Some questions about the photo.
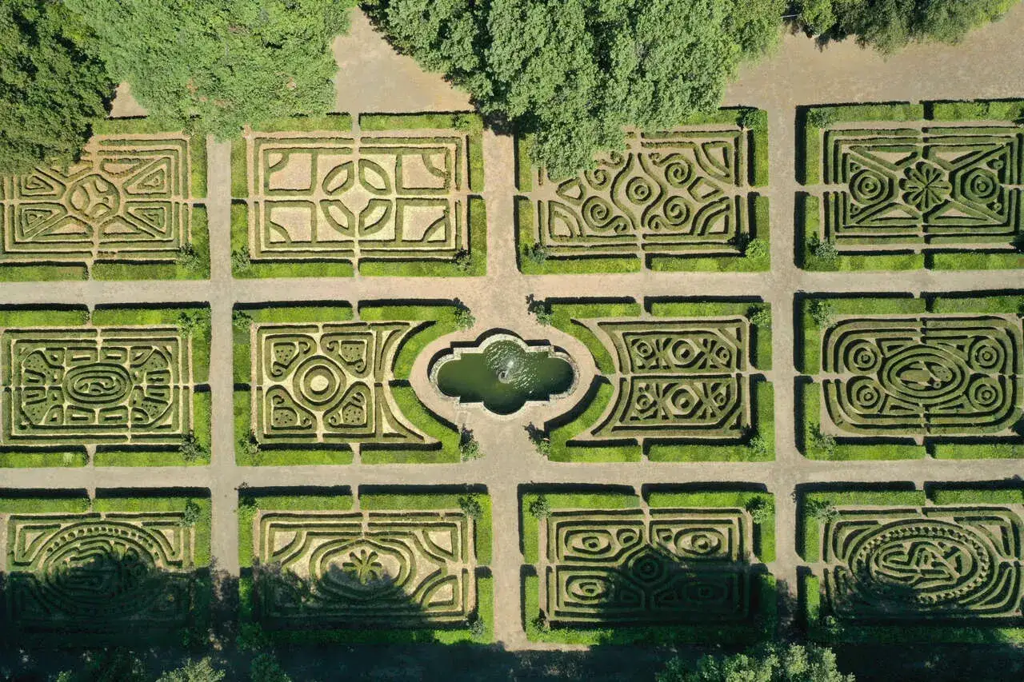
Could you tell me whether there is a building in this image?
No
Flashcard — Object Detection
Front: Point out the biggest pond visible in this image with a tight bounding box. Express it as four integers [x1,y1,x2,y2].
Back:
[434,336,578,419]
